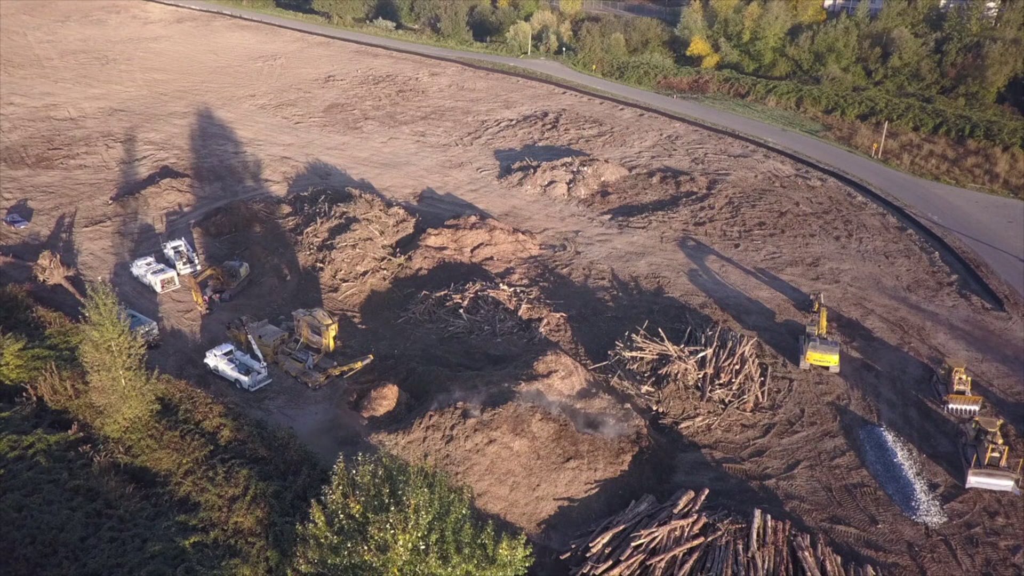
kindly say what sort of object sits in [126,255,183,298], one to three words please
truck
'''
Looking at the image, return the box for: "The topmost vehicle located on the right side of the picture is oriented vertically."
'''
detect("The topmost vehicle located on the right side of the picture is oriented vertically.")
[799,278,846,372]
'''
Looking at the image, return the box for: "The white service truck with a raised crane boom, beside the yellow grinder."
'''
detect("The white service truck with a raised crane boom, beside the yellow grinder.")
[202,317,275,395]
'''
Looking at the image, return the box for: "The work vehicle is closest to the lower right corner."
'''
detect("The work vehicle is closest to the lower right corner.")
[965,403,1024,489]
